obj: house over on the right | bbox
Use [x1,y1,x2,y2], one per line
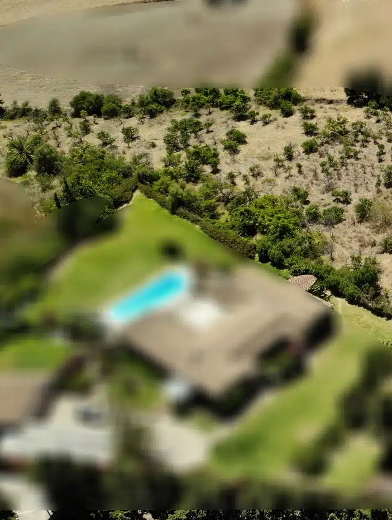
[139,266,337,409]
